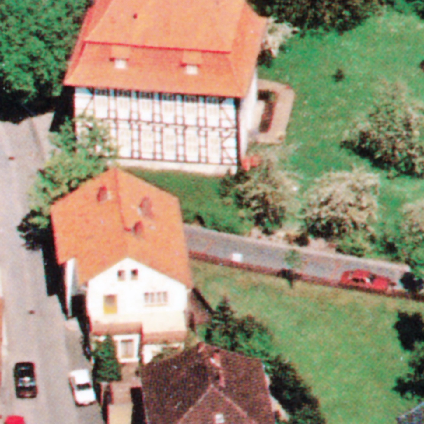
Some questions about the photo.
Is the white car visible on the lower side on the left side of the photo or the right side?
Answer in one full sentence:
It is on the left.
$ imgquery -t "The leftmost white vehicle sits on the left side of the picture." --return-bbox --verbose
[68,367,96,403]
